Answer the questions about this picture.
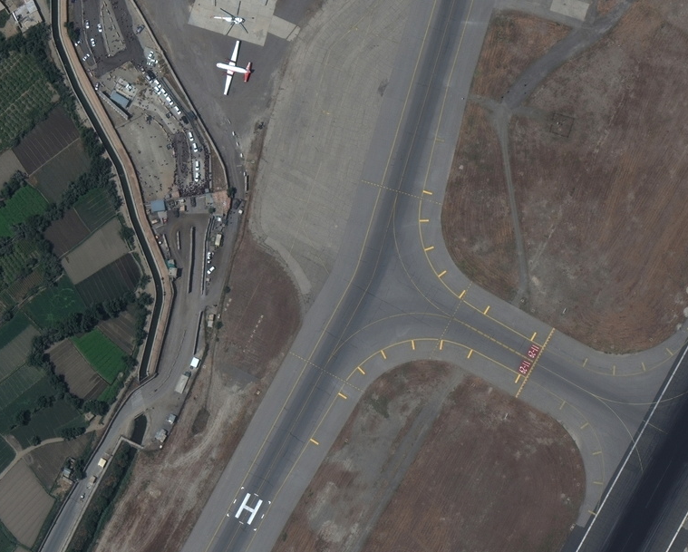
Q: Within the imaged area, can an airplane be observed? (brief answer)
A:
Yes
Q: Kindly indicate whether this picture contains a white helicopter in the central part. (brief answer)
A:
No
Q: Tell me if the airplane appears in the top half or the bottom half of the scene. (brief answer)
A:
top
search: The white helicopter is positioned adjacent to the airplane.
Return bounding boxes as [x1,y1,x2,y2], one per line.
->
[209,2,252,34]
